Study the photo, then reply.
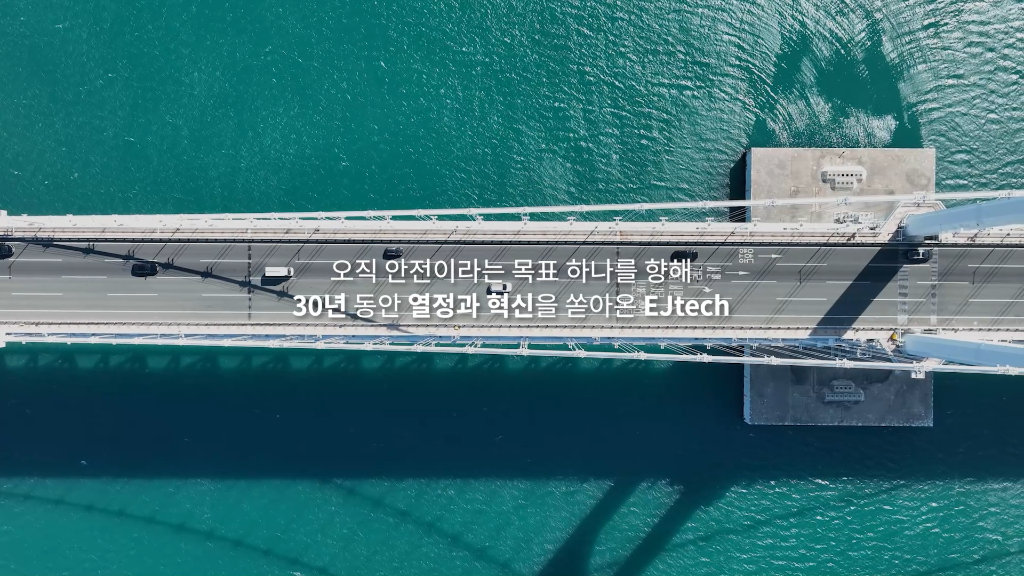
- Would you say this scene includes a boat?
No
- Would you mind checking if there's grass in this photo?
No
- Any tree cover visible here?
No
